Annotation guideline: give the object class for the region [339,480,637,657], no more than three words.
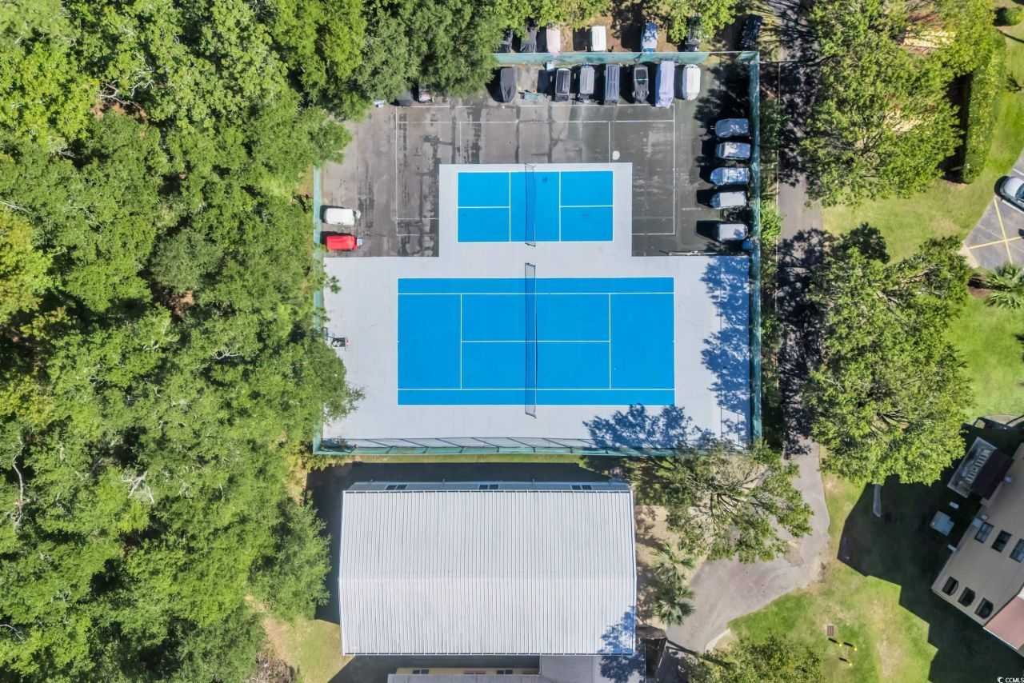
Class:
building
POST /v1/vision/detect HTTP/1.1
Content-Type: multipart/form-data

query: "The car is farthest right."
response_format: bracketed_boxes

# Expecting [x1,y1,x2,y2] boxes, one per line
[996,170,1024,204]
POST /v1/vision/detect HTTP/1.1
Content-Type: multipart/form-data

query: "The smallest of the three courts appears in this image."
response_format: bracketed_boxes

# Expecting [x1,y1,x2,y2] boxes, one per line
[439,163,632,257]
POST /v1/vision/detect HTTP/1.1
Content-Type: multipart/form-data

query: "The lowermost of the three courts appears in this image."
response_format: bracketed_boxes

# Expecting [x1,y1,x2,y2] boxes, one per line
[323,257,750,447]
